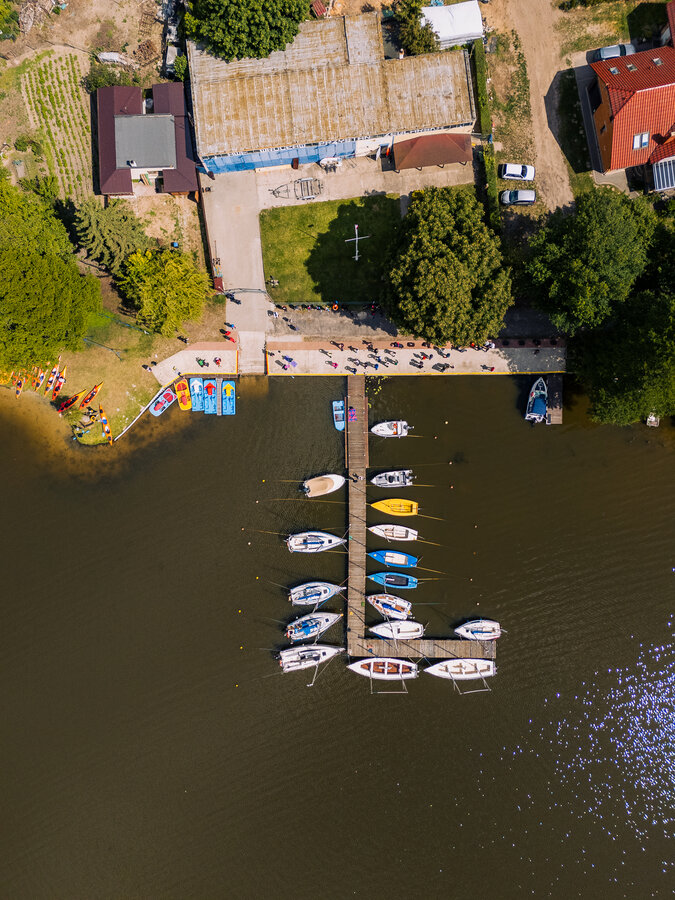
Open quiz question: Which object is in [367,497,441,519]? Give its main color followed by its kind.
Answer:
yellow boat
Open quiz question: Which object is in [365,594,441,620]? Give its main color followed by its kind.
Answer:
white boat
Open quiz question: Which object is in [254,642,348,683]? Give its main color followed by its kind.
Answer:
white boat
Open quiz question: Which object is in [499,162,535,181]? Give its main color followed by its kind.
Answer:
white car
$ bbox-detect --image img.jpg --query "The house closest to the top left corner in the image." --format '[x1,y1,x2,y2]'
[97,82,199,200]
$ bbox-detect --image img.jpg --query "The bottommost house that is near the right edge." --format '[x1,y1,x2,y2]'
[585,46,675,196]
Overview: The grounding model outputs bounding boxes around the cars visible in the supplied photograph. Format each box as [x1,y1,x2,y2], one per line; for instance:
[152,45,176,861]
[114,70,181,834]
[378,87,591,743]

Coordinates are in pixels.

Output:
[596,40,635,61]
[499,162,535,181]
[499,187,536,207]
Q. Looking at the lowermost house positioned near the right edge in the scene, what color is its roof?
red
